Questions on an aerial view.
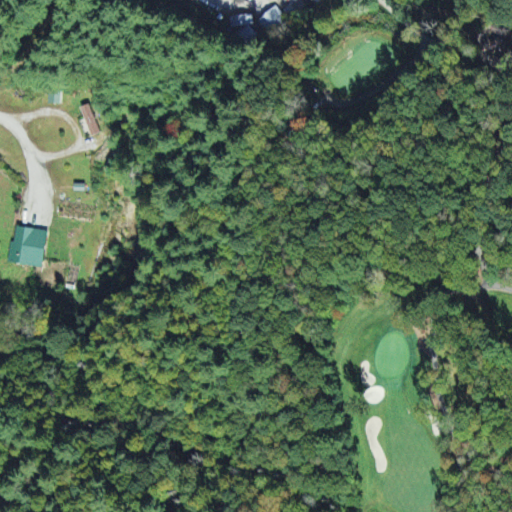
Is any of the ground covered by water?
No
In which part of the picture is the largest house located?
left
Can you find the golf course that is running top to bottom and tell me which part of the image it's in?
bottom right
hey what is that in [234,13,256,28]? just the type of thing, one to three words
house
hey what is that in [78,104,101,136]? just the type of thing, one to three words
house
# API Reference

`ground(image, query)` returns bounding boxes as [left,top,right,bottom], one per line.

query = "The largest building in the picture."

[8,226,47,267]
